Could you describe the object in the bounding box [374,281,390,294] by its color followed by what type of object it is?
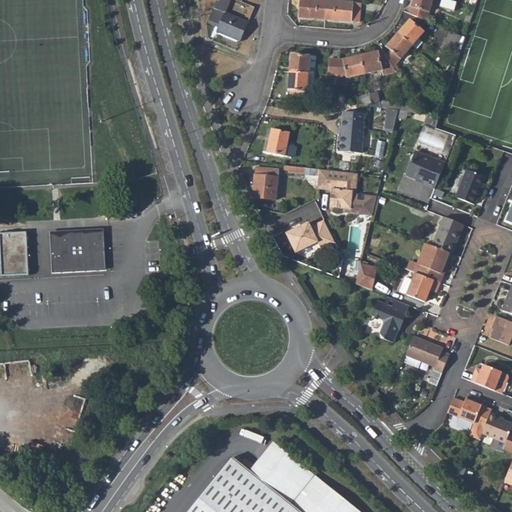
white vehicle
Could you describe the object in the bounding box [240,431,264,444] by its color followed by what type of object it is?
white vehicle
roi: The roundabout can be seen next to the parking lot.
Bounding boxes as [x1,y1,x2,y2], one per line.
[186,270,312,400]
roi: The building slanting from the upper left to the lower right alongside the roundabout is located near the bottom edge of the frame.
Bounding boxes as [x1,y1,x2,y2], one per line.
[252,442,362,512]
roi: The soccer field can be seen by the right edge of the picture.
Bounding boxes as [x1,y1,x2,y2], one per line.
[446,0,512,144]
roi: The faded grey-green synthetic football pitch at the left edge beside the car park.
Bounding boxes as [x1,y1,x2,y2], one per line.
[0,0,86,172]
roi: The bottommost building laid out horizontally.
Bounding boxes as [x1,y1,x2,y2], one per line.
[186,458,306,512]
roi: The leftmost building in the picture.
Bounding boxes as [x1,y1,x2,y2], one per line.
[0,230,29,276]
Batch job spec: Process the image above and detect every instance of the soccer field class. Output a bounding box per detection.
[0,0,86,172]
[446,0,512,144]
